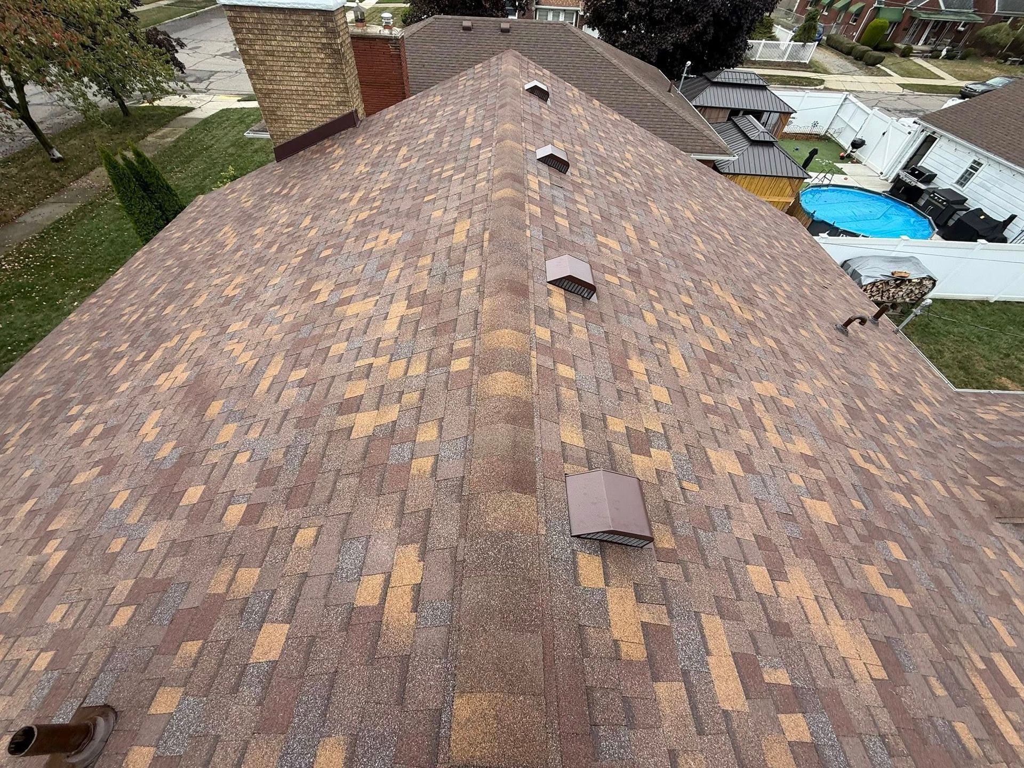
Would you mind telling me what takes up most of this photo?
buildings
